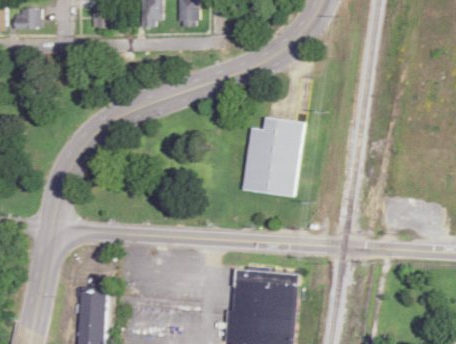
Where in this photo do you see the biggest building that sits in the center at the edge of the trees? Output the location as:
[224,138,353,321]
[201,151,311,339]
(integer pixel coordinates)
[244,117,308,198]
